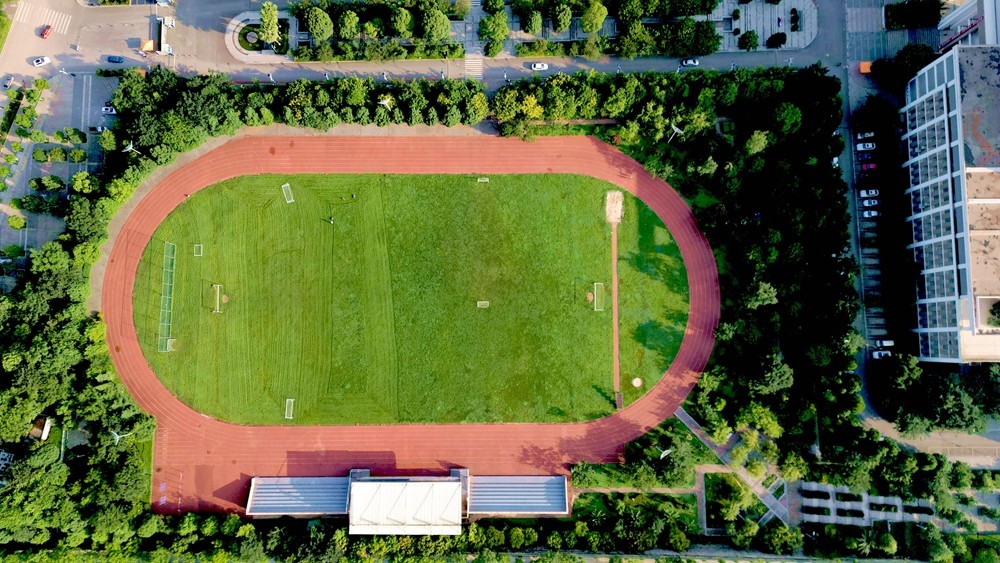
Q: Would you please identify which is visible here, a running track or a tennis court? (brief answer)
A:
running track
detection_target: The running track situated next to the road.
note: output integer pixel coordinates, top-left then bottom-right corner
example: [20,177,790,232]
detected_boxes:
[102,138,721,519]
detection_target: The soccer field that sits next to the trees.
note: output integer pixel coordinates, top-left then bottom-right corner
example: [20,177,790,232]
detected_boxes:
[133,175,690,425]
